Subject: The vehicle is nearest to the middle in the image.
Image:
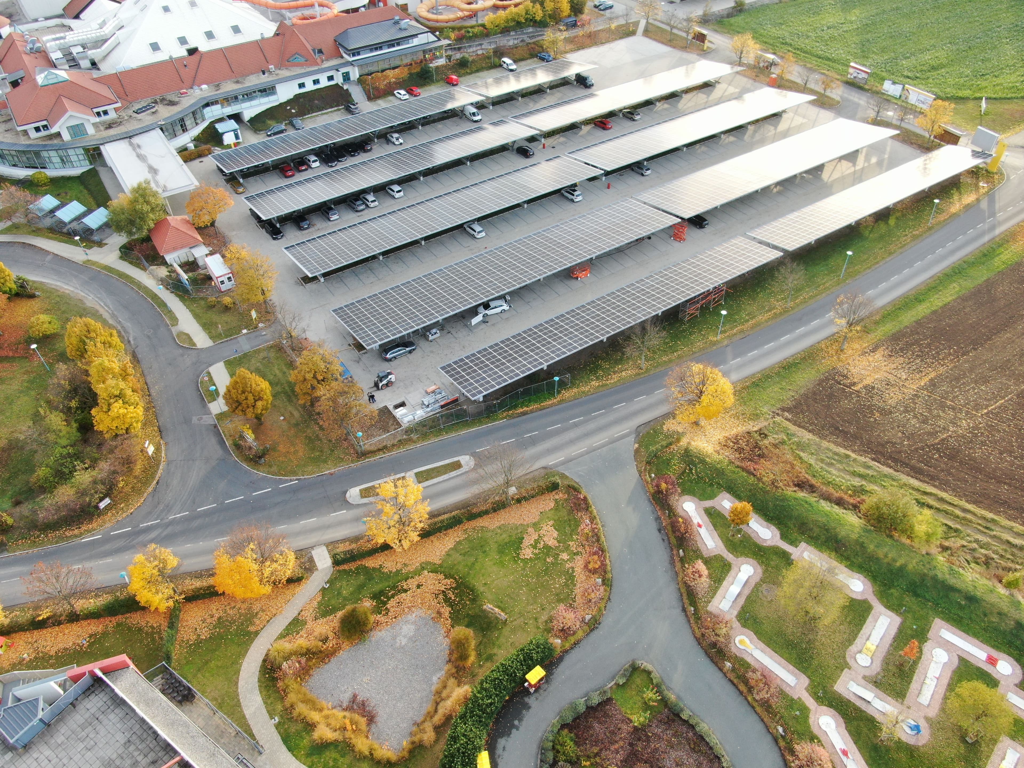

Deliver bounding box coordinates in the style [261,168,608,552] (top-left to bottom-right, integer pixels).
[475,294,510,320]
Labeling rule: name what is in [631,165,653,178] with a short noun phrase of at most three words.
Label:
vehicle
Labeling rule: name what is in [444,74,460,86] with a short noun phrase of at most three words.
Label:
vehicle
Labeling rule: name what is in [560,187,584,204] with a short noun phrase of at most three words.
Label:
car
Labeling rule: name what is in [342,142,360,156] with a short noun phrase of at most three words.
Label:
car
